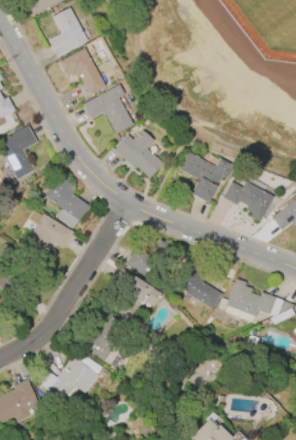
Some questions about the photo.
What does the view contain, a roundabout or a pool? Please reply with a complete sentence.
Of the two, only a pool appears.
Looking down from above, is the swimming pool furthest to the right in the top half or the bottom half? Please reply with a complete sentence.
It is in the bottom half that the swimming pool furthest to the right appears.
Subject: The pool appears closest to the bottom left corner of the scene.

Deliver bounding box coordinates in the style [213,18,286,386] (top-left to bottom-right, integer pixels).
[110,403,128,422]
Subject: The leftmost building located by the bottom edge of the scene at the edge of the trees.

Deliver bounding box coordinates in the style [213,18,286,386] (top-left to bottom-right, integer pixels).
[0,382,37,420]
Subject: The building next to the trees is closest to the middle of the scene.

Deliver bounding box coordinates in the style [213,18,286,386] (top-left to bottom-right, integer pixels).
[128,254,151,274]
